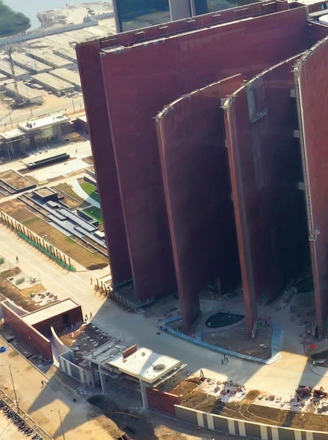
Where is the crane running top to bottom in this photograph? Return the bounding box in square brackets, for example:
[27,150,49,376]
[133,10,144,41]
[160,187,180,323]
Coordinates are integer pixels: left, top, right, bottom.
[0,15,28,107]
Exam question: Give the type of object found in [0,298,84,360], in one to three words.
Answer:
building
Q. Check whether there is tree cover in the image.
No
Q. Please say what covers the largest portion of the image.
buildings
